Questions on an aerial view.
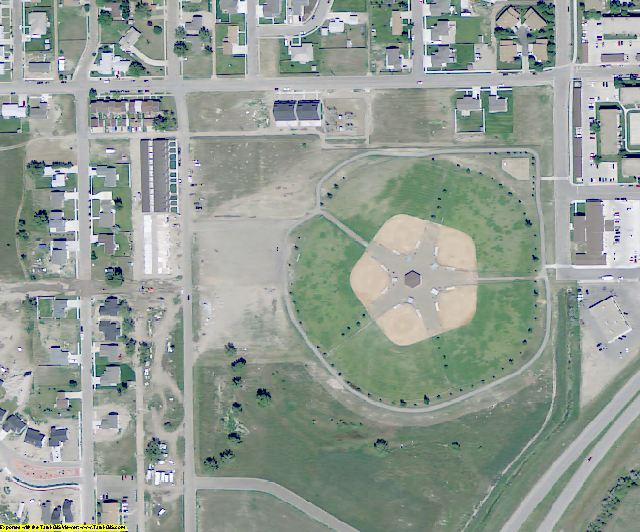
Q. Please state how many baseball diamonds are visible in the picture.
5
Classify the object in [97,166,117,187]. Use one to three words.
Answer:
house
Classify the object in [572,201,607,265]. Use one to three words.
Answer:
building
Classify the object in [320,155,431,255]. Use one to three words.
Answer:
baseball field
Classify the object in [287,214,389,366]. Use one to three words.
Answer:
baseball field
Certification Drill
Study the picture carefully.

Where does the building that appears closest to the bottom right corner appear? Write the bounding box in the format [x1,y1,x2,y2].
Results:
[590,296,632,342]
